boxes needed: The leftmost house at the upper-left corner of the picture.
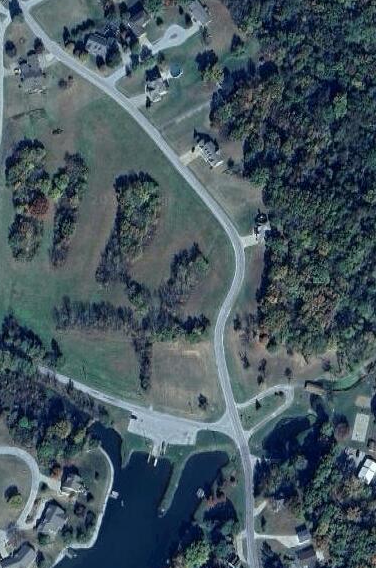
[21,61,45,92]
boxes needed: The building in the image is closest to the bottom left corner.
[0,540,40,568]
